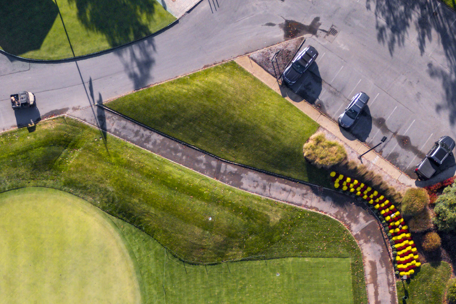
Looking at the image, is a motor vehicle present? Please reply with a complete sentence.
Yes, there is a motor vehicle in the image.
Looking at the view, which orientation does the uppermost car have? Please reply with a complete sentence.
The uppermost car is laid out diagonally.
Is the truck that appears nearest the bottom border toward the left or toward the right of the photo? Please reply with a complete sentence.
The truck that appears nearest the bottom border sits on the right side.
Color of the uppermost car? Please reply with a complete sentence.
In this view, the uppermost car is black.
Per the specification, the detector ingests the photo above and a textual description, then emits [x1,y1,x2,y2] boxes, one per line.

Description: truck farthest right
[411,137,455,184]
